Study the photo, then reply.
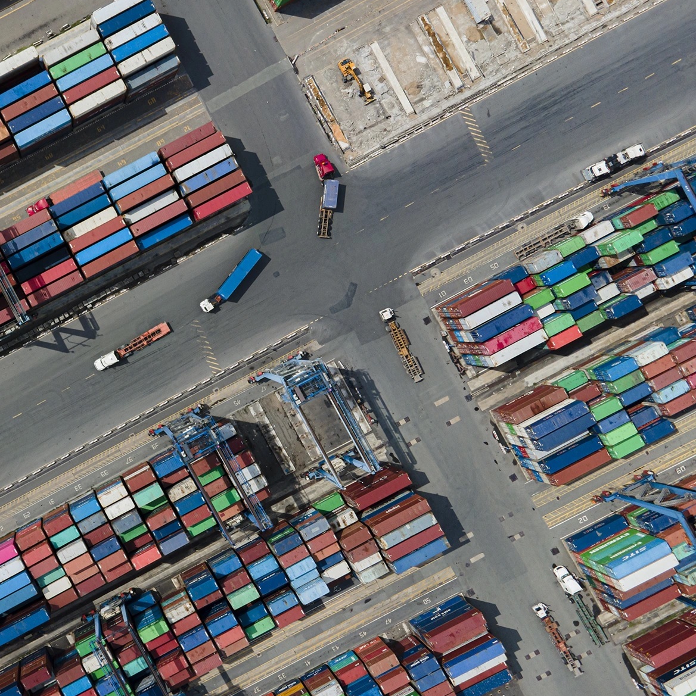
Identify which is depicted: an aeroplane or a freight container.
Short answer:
freight container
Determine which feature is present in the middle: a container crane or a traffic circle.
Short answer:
container crane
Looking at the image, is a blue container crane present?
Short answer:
Yes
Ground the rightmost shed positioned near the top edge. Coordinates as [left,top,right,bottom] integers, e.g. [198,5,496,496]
[460,0,493,25]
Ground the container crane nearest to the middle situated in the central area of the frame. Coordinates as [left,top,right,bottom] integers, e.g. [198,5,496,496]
[247,349,389,495]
